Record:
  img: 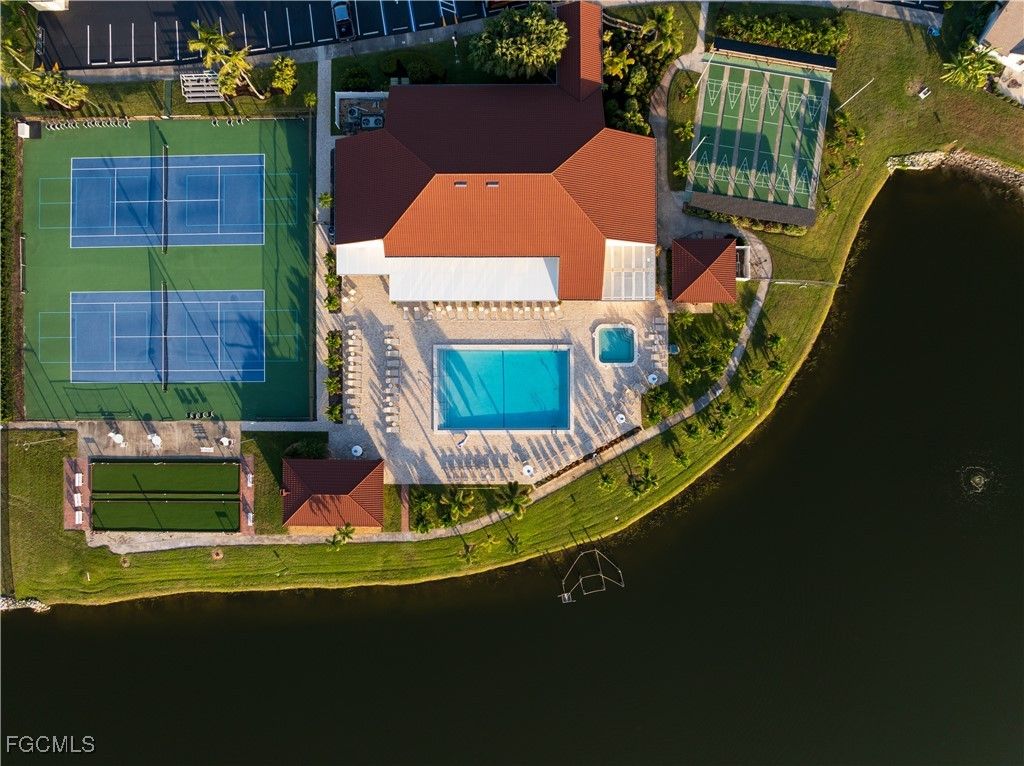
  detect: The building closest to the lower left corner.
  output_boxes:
[282,459,385,526]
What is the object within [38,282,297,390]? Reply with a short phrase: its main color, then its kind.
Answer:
blue tennis court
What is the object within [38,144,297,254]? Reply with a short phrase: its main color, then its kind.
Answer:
blue tennis court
